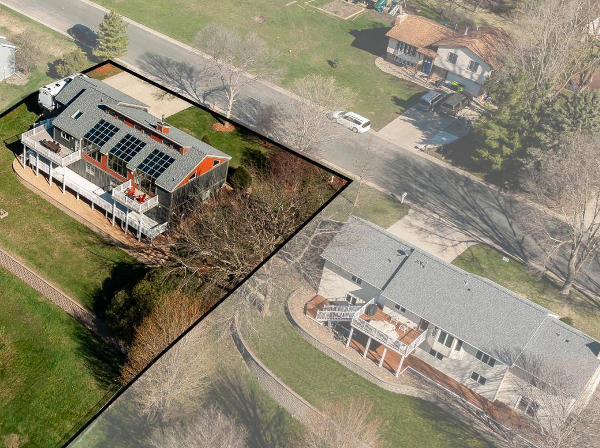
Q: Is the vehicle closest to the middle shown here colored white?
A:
Yes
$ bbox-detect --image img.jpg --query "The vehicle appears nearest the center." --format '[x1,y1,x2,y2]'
[330,108,370,130]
